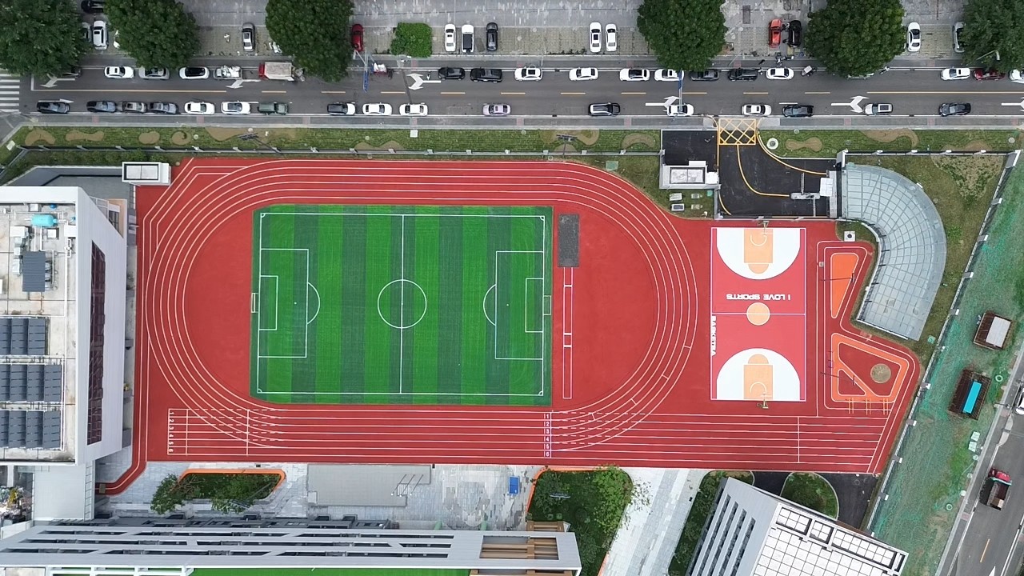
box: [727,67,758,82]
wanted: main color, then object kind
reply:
black car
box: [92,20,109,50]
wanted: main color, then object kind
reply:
white car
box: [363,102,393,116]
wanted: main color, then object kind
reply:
white car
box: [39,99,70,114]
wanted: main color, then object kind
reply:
black car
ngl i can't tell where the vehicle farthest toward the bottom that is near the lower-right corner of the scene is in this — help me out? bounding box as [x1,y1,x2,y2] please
[981,465,1018,511]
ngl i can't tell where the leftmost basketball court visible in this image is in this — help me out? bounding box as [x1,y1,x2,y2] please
[711,228,807,401]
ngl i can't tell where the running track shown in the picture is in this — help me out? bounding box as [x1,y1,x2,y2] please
[95,158,921,495]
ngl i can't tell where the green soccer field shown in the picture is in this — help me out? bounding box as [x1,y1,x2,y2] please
[251,205,553,406]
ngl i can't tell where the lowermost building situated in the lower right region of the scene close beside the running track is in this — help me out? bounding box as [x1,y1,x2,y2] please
[683,478,908,576]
